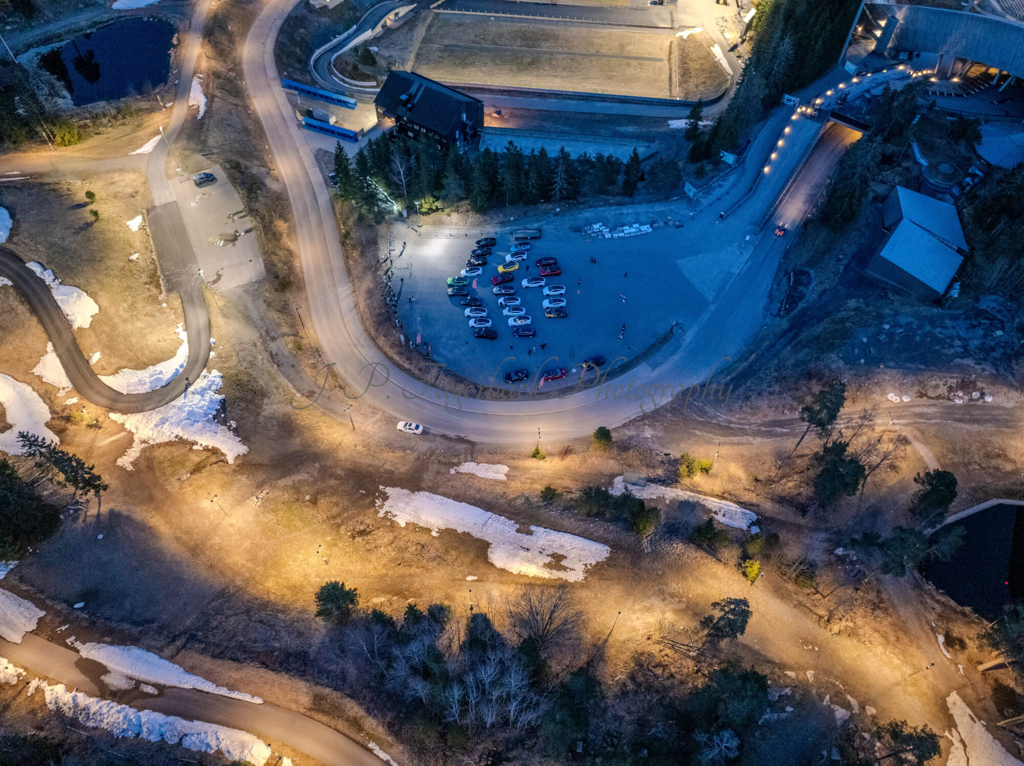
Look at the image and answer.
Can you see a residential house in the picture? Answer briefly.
Yes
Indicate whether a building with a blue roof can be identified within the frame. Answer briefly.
Yes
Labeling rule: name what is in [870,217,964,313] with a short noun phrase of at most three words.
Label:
house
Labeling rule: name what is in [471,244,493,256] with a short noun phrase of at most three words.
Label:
vehicle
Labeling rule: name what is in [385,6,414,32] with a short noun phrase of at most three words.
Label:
shed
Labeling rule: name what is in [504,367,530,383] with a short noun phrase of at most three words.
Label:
car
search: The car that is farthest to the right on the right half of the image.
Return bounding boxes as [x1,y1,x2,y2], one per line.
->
[774,222,787,237]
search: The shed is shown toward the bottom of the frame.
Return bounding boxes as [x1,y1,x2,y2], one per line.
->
[622,471,647,490]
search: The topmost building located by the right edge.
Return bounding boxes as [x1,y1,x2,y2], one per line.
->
[864,0,1024,91]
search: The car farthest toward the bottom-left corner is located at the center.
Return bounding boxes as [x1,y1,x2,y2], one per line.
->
[397,420,424,435]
